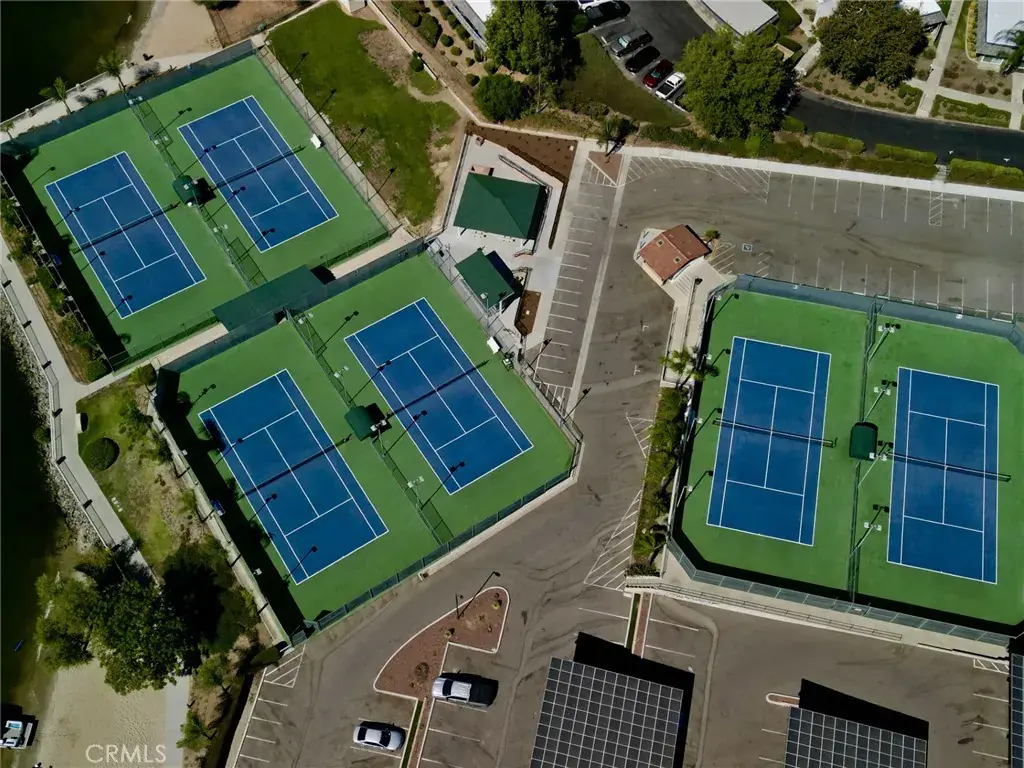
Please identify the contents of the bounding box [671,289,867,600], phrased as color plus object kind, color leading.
green tennis court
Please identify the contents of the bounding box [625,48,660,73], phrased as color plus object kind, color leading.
black car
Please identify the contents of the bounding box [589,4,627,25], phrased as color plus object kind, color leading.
black car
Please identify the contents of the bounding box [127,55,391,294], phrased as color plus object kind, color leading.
green tennis court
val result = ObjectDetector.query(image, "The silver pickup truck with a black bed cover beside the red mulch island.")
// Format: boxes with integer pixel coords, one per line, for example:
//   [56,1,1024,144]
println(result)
[431,676,492,707]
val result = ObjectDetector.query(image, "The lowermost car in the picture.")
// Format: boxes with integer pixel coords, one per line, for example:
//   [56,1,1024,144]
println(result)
[353,723,406,750]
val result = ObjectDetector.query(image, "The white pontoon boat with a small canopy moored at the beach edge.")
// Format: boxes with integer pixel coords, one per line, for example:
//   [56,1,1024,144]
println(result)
[0,715,36,756]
